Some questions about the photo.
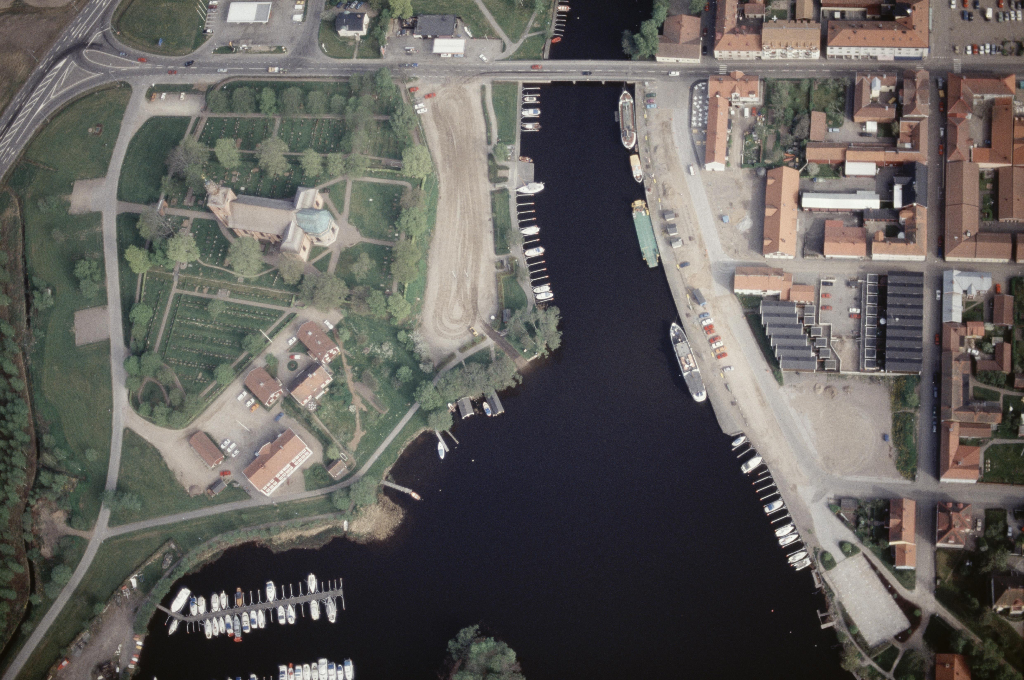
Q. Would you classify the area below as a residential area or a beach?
residential area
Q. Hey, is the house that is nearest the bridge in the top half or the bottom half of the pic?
top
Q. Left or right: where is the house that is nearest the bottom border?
right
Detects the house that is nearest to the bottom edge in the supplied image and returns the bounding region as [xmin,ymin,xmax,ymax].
[936,652,972,680]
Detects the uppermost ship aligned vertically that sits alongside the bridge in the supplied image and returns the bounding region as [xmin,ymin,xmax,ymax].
[619,90,636,151]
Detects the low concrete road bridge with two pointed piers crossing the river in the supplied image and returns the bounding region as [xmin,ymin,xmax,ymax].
[479,58,657,84]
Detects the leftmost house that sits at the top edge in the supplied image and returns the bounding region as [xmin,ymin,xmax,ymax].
[335,10,369,37]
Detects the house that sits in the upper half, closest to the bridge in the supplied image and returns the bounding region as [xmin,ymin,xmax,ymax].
[656,10,701,65]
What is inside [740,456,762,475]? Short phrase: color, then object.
white boat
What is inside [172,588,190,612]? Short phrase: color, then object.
white boat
